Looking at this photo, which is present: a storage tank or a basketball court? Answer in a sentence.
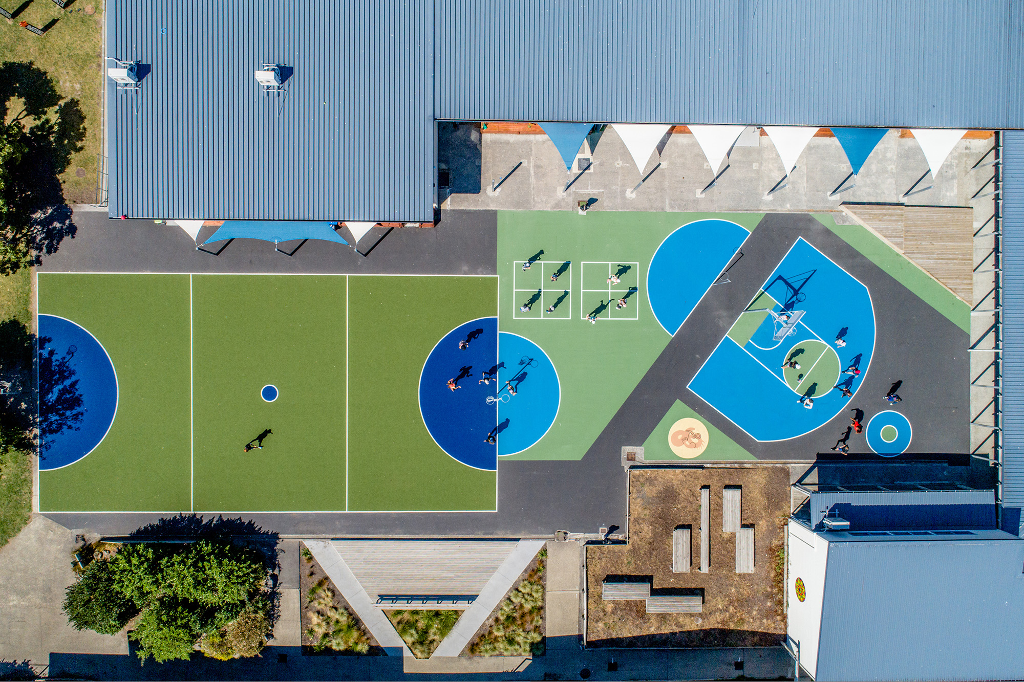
Visible in the photo is a basketball court.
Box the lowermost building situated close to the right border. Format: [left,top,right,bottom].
[787,516,1024,682]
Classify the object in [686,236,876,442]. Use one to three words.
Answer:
basketball court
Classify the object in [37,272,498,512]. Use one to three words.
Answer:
sports court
